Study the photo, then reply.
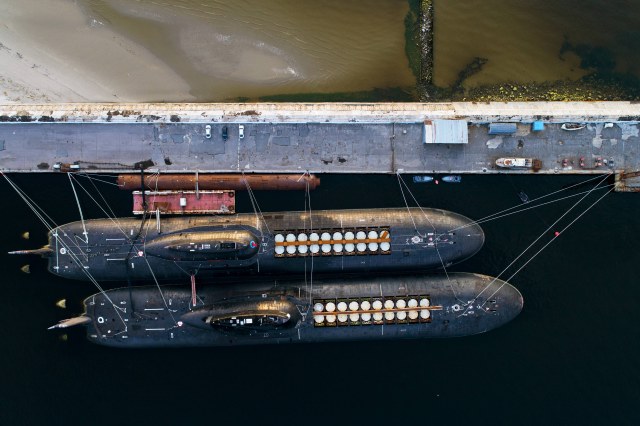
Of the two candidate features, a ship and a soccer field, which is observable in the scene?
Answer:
ship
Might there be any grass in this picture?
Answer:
No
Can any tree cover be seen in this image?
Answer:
No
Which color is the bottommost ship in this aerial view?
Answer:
black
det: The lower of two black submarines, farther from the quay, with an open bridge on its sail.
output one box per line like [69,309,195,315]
[45,272,526,347]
